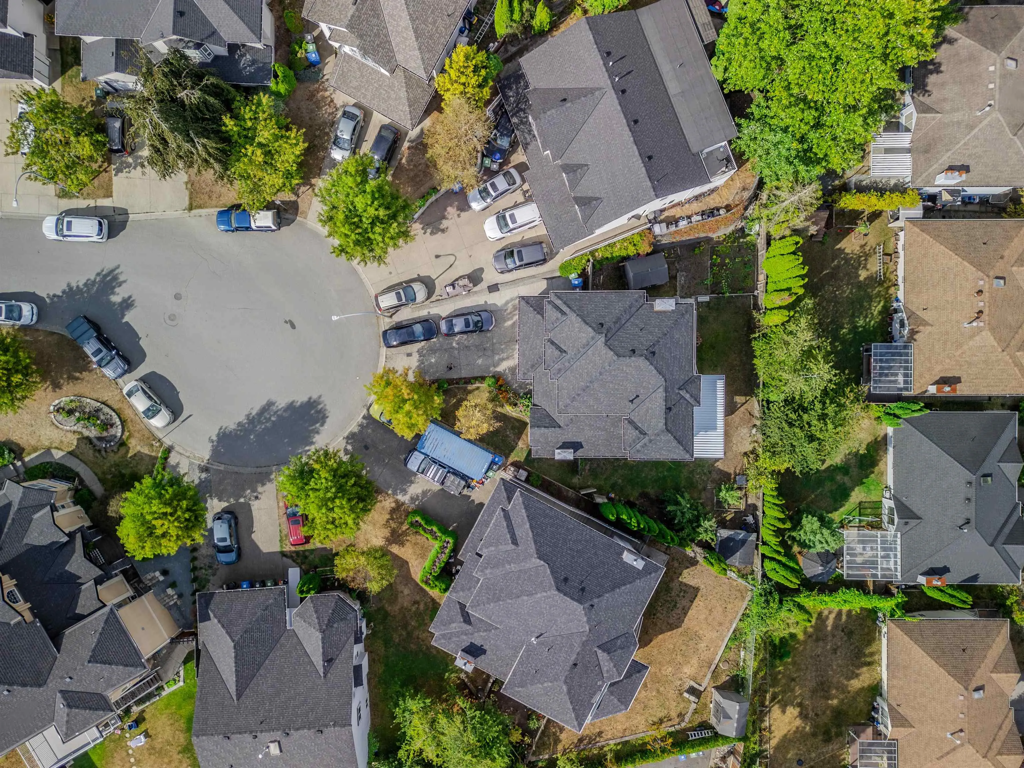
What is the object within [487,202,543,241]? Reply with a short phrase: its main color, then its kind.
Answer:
white car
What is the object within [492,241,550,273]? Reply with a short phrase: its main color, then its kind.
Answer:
gray car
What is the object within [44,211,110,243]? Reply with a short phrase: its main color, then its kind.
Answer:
white car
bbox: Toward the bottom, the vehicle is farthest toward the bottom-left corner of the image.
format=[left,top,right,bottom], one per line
[209,509,241,563]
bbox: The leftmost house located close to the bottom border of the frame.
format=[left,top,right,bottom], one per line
[0,474,153,756]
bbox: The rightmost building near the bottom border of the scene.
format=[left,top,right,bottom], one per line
[874,616,1024,768]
